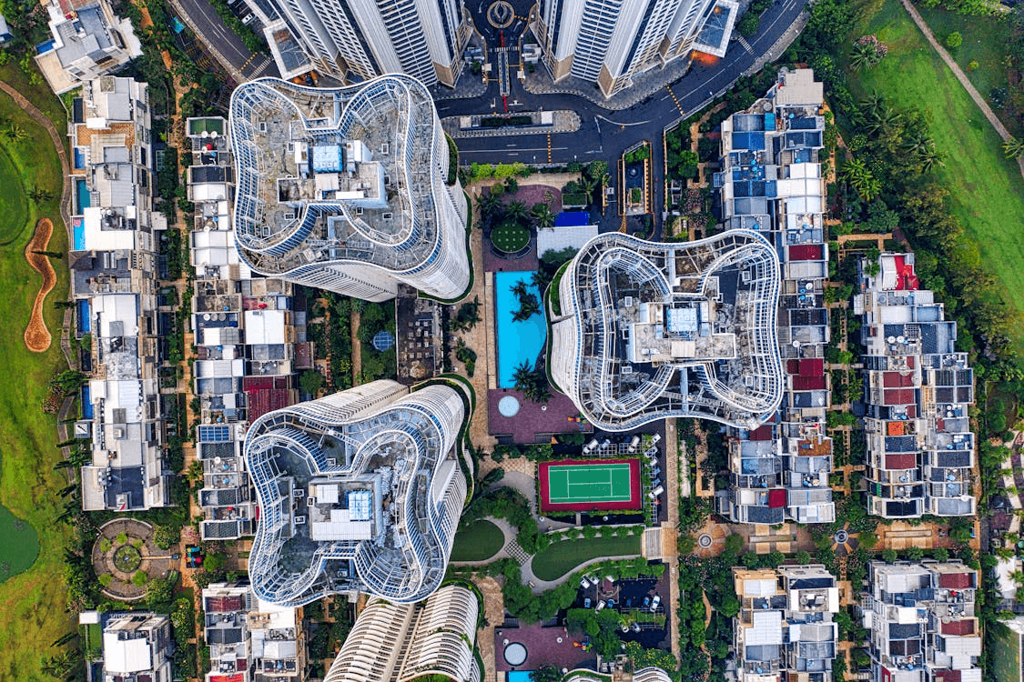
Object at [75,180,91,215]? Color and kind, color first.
blue swimming pool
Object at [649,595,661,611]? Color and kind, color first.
white vehicle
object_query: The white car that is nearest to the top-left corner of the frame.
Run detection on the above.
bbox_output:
[241,11,255,25]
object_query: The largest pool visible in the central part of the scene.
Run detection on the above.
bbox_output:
[496,271,546,387]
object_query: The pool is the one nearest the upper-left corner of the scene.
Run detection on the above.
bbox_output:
[36,38,58,55]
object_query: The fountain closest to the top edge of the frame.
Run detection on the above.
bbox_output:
[487,0,514,28]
